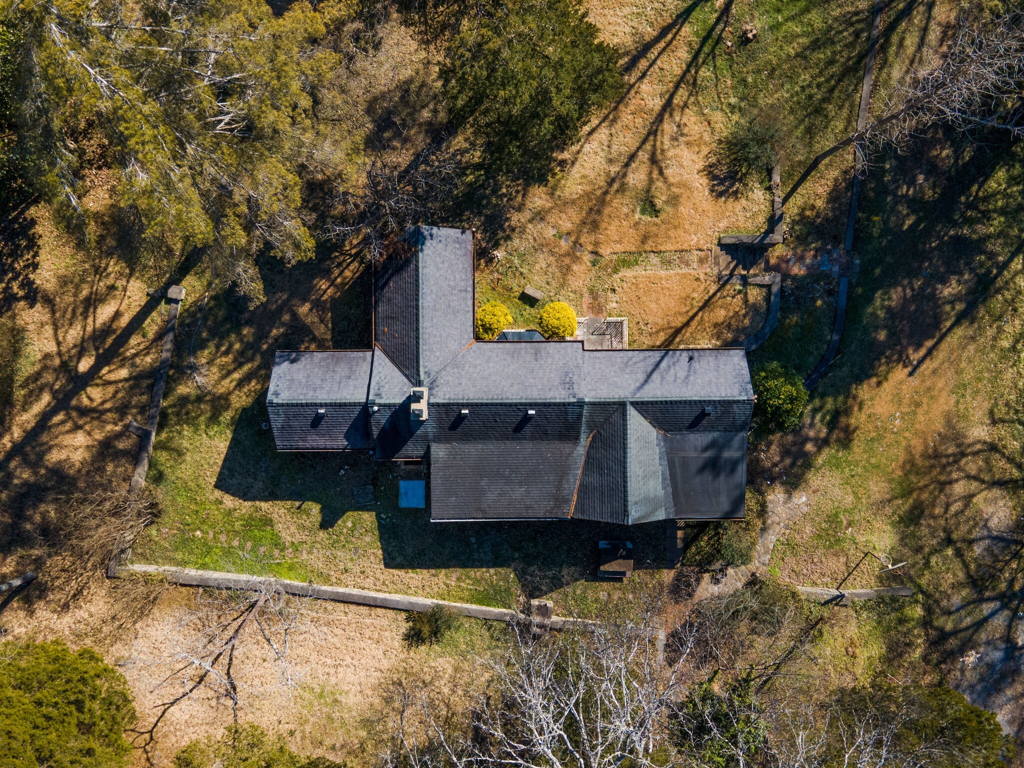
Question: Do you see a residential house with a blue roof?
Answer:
No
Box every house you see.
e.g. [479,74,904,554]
[264,225,757,526]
